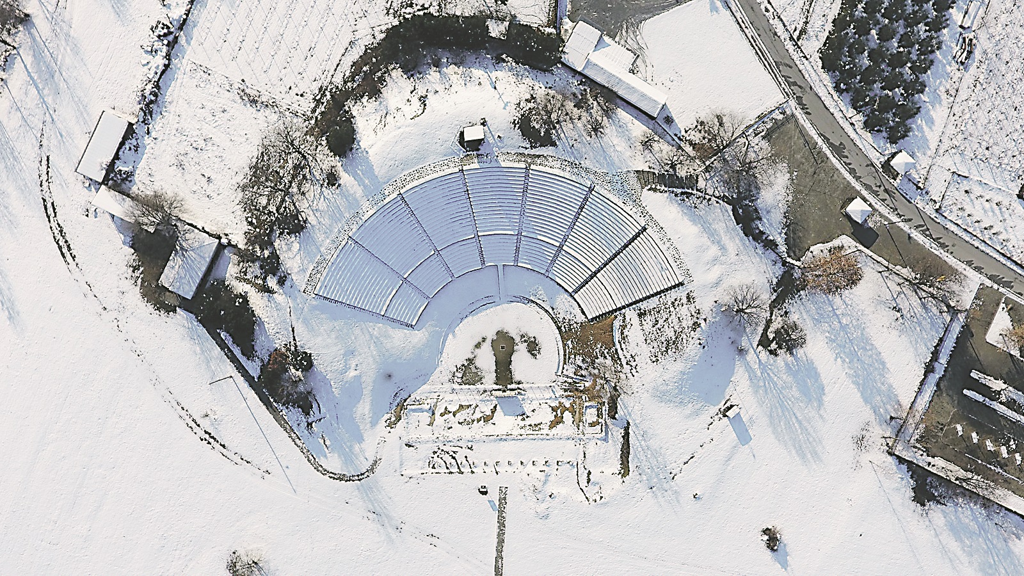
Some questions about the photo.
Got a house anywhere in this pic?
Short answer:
Yes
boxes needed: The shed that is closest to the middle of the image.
[458,126,485,156]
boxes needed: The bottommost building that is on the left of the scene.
[159,235,222,299]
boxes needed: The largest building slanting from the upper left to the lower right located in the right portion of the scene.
[581,51,667,121]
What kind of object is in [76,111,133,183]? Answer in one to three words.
shed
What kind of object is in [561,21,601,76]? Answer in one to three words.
house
